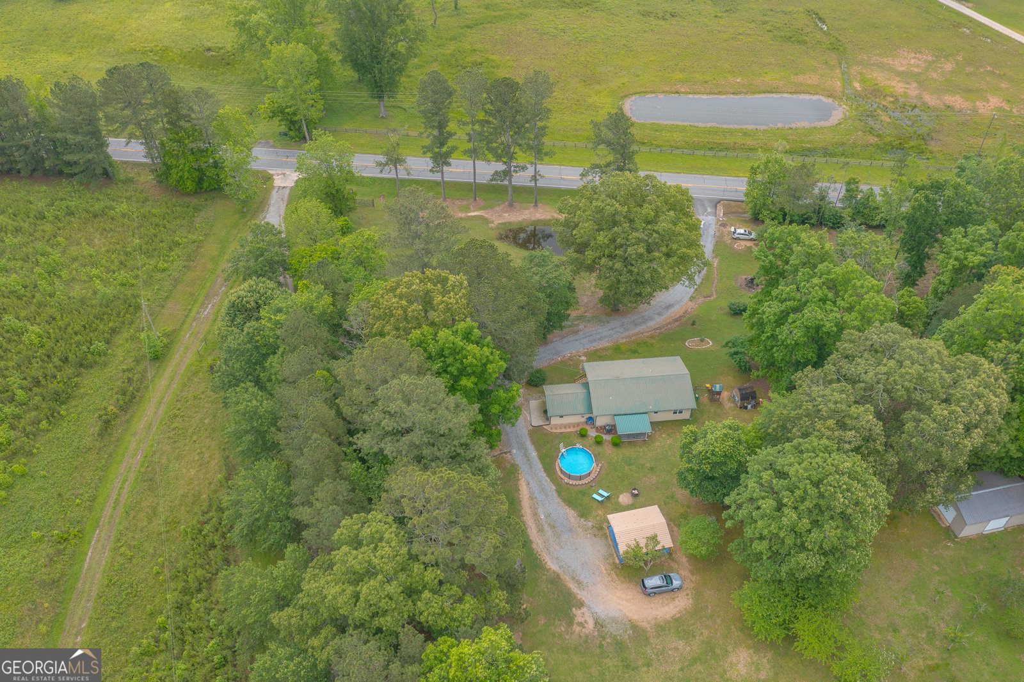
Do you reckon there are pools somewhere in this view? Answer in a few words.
Yes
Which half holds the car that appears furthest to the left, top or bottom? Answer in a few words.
bottom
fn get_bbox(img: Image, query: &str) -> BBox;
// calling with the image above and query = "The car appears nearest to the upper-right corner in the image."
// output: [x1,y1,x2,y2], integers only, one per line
[730,226,759,241]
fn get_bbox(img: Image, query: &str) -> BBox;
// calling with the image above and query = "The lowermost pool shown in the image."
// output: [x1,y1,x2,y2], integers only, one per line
[557,444,596,482]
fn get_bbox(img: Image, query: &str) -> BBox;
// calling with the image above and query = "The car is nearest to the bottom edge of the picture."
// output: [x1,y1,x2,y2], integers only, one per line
[640,572,684,597]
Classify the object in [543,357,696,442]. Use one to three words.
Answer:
house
